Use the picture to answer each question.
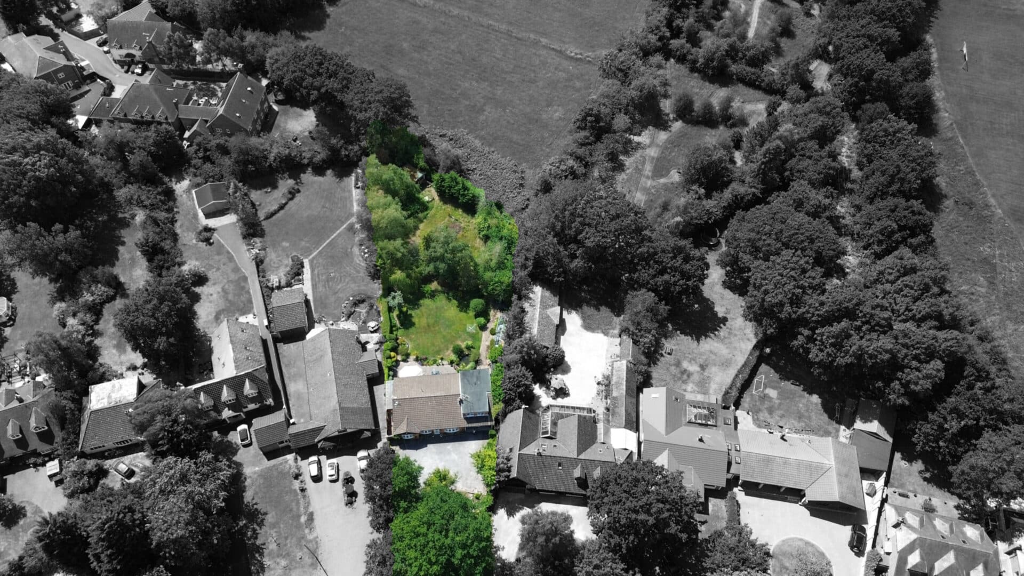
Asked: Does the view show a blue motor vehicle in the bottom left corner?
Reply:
No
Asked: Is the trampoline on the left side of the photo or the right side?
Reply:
right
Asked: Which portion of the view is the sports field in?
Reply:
top right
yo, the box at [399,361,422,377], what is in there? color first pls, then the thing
white umbrella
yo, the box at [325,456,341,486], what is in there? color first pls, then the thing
white car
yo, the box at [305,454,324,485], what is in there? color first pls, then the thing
white car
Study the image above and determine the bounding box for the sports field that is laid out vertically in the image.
[930,0,1024,241]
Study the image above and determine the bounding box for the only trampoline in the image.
[700,225,723,247]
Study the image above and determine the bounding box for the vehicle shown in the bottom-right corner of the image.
[847,521,868,557]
